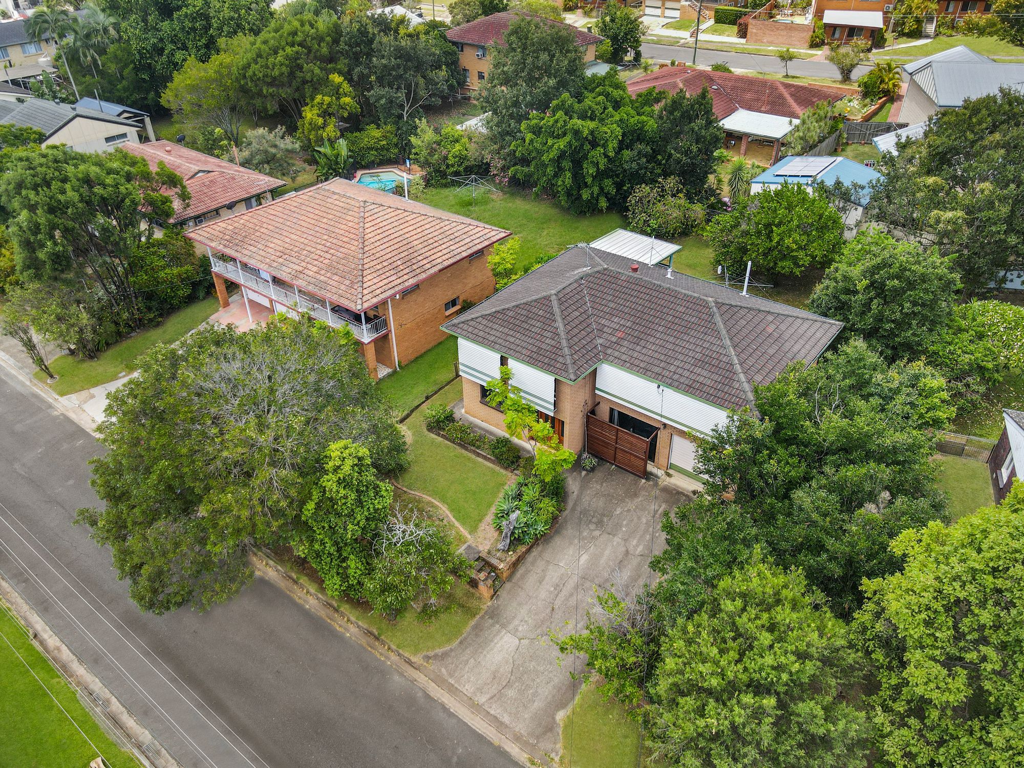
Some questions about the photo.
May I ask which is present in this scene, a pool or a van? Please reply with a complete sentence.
I can see a pool in this picture.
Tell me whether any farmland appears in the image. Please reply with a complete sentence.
No, the scene doesn't show any farmland.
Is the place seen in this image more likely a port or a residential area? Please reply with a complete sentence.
This image shows a residential area.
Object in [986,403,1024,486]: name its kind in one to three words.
house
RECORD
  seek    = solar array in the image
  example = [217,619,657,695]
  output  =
[775,157,837,176]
